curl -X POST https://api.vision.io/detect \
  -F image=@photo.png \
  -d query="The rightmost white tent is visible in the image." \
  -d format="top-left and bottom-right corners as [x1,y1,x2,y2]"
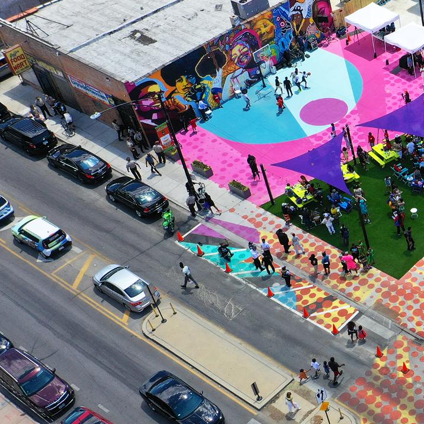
[383,22,424,74]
